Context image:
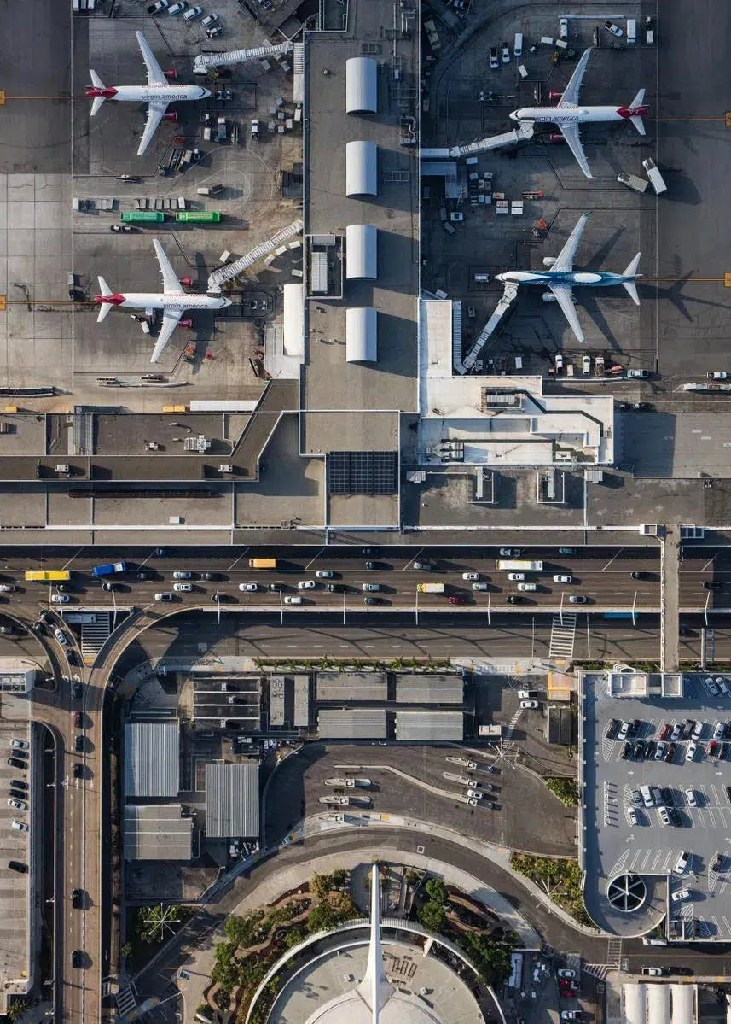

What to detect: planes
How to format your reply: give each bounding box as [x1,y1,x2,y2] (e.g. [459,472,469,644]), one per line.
[83,28,211,154]
[91,238,231,364]
[509,43,652,177]
[495,210,646,340]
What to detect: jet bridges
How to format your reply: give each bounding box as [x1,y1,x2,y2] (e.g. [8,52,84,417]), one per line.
[454,280,520,376]
[420,119,535,161]
[196,40,293,78]
[209,222,303,297]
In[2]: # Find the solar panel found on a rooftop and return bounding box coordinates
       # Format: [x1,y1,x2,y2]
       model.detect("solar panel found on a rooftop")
[329,451,397,496]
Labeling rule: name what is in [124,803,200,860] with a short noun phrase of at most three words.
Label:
building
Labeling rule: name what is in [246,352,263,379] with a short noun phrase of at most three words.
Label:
work vehicle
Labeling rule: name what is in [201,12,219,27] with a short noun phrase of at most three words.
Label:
car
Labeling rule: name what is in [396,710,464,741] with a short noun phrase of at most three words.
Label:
shed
